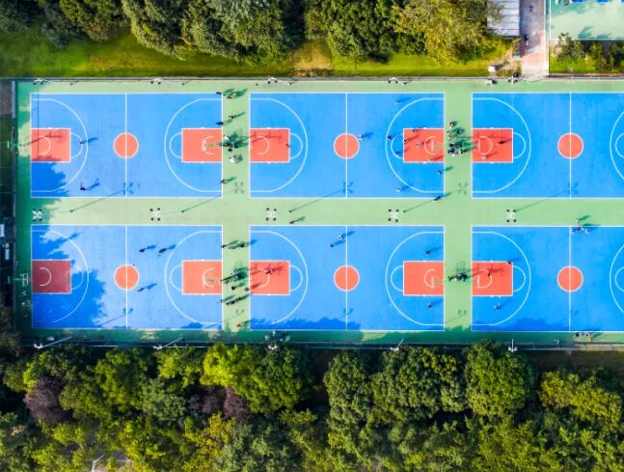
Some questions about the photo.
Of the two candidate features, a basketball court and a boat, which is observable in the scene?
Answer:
basketball court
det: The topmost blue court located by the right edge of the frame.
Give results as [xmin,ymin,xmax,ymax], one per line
[472,92,624,199]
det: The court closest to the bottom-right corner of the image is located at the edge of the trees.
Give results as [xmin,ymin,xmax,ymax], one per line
[471,226,624,332]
